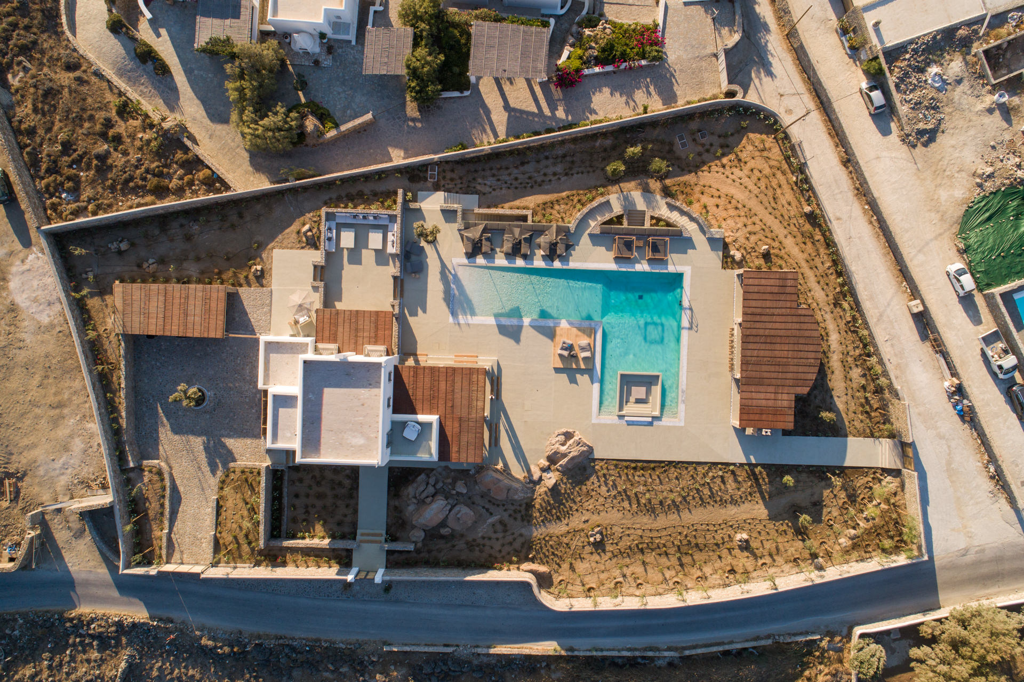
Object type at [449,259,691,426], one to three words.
swimming pool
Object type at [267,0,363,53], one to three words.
house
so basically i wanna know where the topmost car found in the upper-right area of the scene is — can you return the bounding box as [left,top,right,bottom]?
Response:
[859,75,891,116]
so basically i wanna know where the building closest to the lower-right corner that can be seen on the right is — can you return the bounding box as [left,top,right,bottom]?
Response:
[730,266,824,433]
